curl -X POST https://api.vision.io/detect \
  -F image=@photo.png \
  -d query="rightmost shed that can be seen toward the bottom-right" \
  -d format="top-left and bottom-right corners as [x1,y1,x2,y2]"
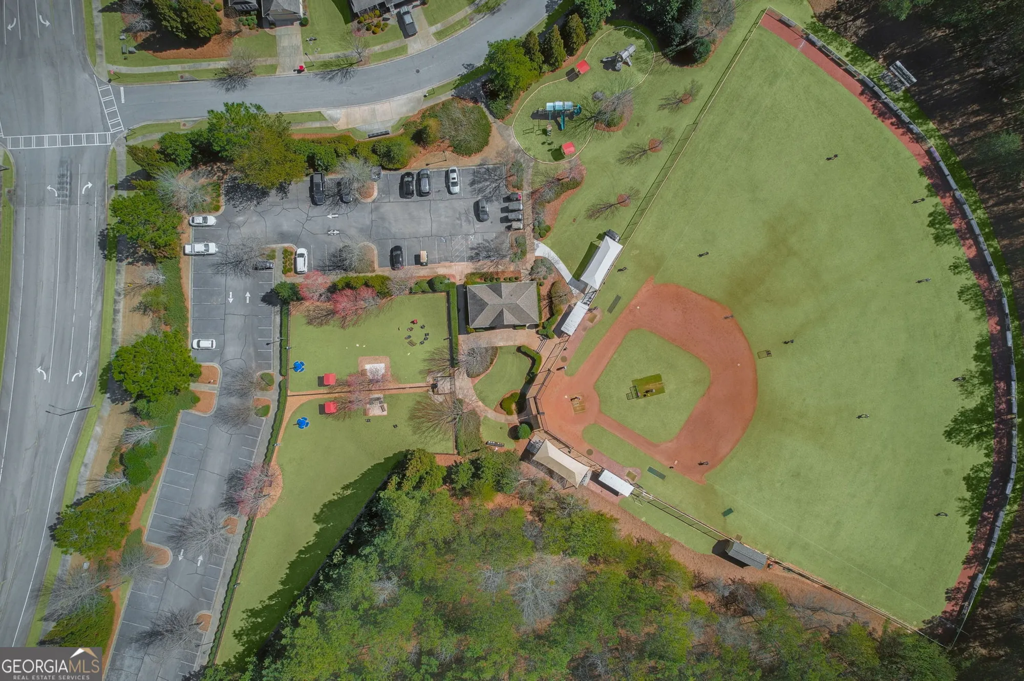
[727,541,767,570]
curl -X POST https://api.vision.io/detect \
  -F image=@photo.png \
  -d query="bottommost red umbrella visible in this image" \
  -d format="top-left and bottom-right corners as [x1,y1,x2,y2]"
[325,402,338,414]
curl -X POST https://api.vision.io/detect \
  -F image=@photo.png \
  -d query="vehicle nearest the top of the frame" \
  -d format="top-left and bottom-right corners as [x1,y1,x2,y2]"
[400,4,419,37]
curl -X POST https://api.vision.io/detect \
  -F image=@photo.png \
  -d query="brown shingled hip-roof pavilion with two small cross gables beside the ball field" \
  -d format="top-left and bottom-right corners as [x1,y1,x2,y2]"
[467,280,540,328]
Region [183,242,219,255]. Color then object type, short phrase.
white vehicle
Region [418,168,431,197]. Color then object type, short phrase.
gray vehicle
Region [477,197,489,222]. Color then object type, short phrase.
gray vehicle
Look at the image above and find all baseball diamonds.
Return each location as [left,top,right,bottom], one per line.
[536,11,1010,644]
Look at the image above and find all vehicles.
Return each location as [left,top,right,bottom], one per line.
[339,177,352,204]
[401,172,414,199]
[605,230,619,242]
[419,249,427,265]
[295,248,308,273]
[400,4,419,37]
[418,168,431,197]
[311,172,325,206]
[190,214,217,227]
[192,338,217,350]
[511,221,523,229]
[477,197,489,222]
[509,202,522,211]
[252,259,277,271]
[183,242,219,255]
[508,212,522,221]
[391,245,403,270]
[508,193,523,202]
[447,167,459,194]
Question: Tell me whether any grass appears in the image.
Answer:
Yes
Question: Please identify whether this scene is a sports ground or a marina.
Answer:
sports ground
